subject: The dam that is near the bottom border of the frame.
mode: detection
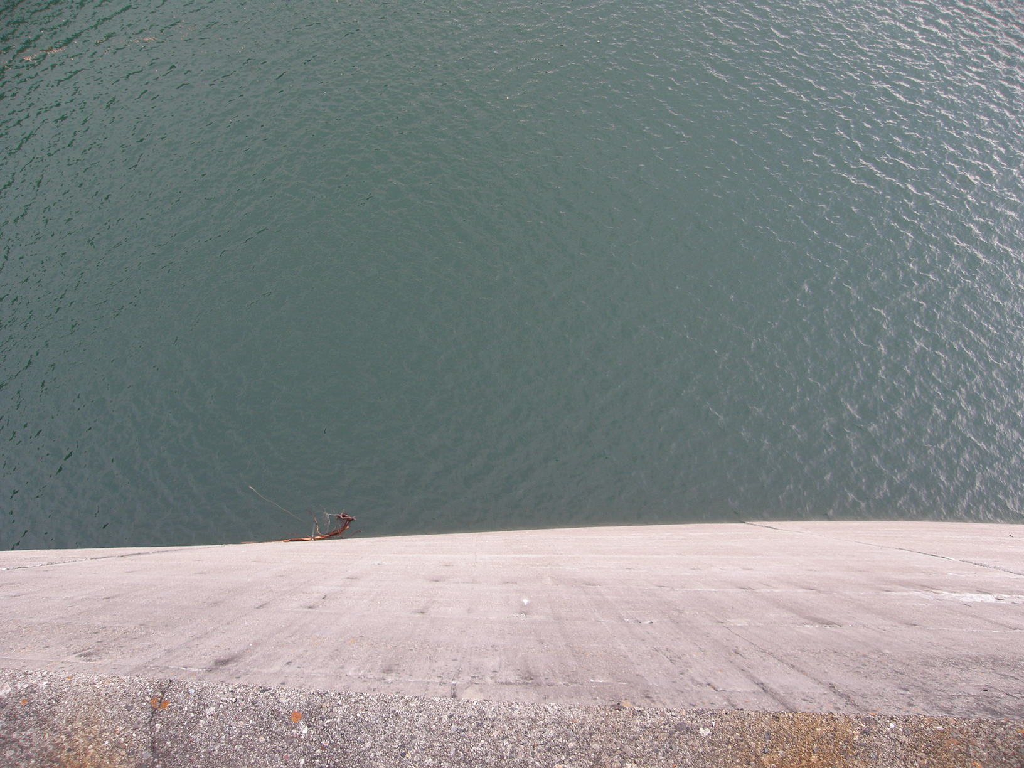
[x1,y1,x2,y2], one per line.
[0,520,1024,768]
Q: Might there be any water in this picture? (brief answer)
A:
Yes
